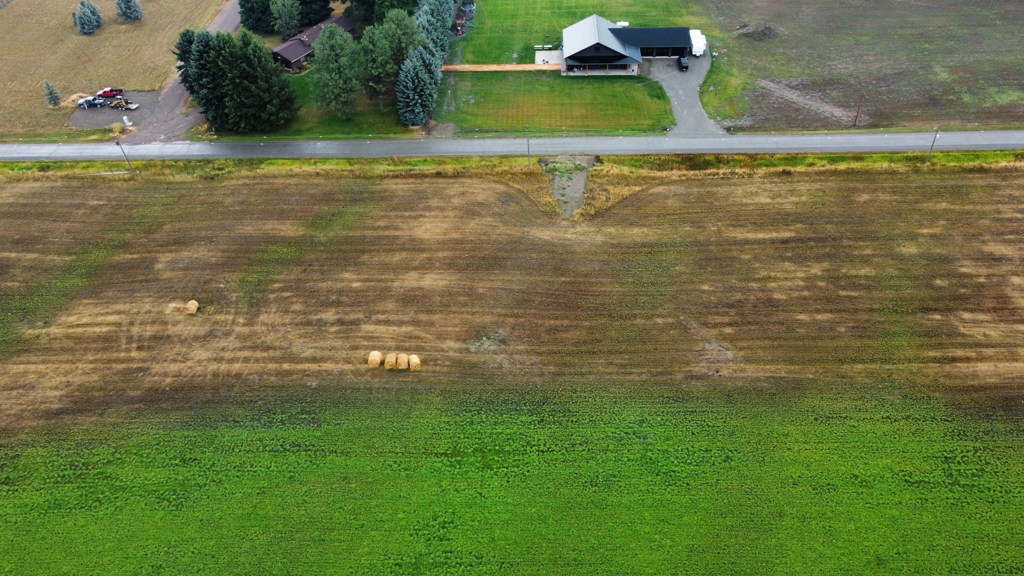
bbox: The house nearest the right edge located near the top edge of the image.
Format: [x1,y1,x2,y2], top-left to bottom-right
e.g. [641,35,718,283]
[563,14,693,75]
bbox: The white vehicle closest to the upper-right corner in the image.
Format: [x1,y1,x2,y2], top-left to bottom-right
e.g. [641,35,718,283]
[689,30,707,59]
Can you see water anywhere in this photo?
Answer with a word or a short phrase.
No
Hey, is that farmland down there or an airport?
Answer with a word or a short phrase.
farmland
